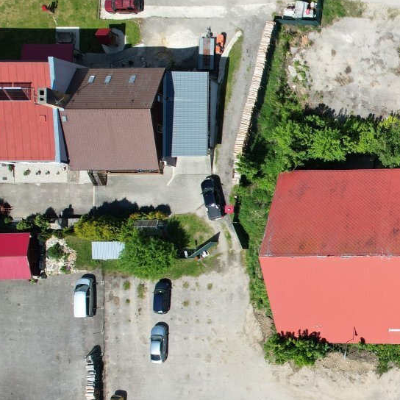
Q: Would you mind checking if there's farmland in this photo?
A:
No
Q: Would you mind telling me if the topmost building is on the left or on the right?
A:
left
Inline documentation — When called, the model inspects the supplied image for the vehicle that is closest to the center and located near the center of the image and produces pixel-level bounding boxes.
[200,175,224,220]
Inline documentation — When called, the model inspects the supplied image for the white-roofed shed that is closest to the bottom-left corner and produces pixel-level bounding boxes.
[91,241,121,260]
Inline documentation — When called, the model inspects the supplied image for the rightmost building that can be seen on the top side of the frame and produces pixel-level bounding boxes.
[166,70,218,162]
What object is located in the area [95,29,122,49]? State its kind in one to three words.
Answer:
building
